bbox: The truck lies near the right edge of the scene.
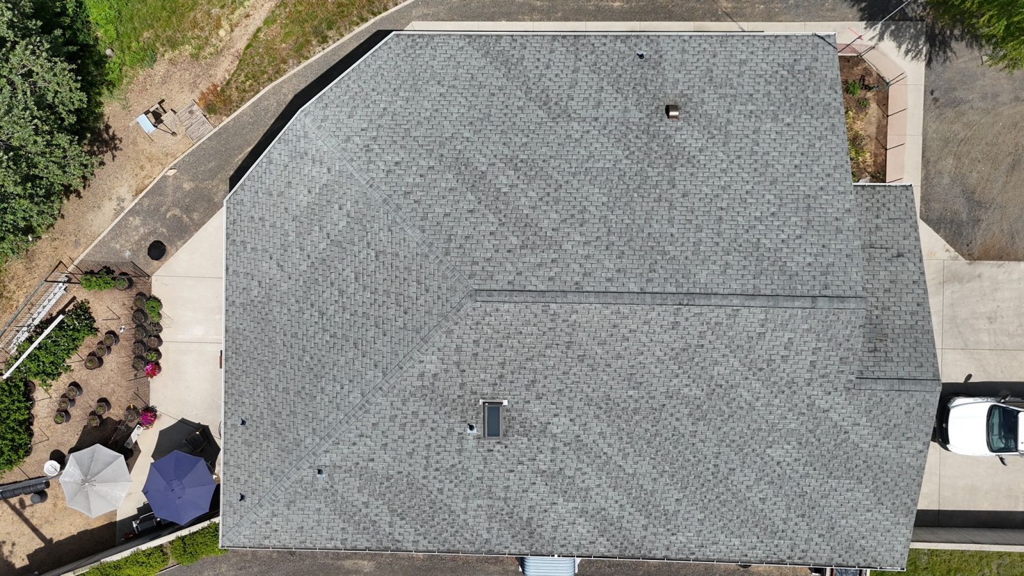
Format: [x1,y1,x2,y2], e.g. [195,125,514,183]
[934,388,1024,467]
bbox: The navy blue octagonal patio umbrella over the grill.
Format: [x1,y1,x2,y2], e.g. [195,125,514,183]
[143,450,217,525]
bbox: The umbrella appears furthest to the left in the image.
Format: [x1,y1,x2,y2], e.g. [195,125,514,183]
[60,444,137,517]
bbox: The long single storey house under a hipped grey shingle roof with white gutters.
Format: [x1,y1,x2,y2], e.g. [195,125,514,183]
[216,29,943,573]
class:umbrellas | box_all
[60,444,137,517]
[143,450,217,525]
